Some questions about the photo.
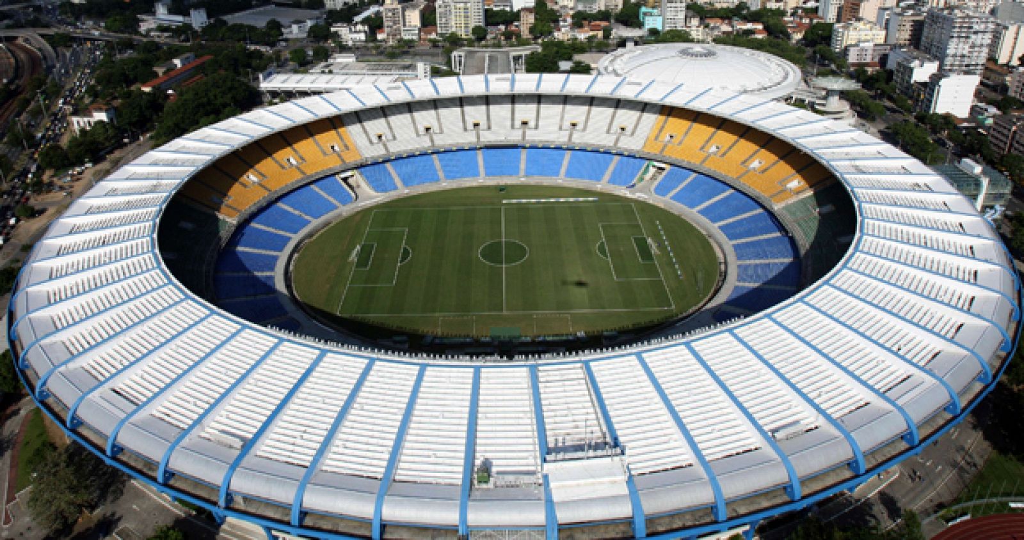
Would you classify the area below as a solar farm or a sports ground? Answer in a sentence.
This looks like a sports ground.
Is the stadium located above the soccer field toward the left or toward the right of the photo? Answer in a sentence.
The stadium located above the soccer field is on the right side of the image.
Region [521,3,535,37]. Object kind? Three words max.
building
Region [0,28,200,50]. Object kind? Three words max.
overpass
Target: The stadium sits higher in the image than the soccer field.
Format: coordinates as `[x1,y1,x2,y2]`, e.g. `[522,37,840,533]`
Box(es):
[598,41,805,104]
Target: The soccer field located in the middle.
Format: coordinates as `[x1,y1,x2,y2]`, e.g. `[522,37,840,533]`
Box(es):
[298,182,723,352]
